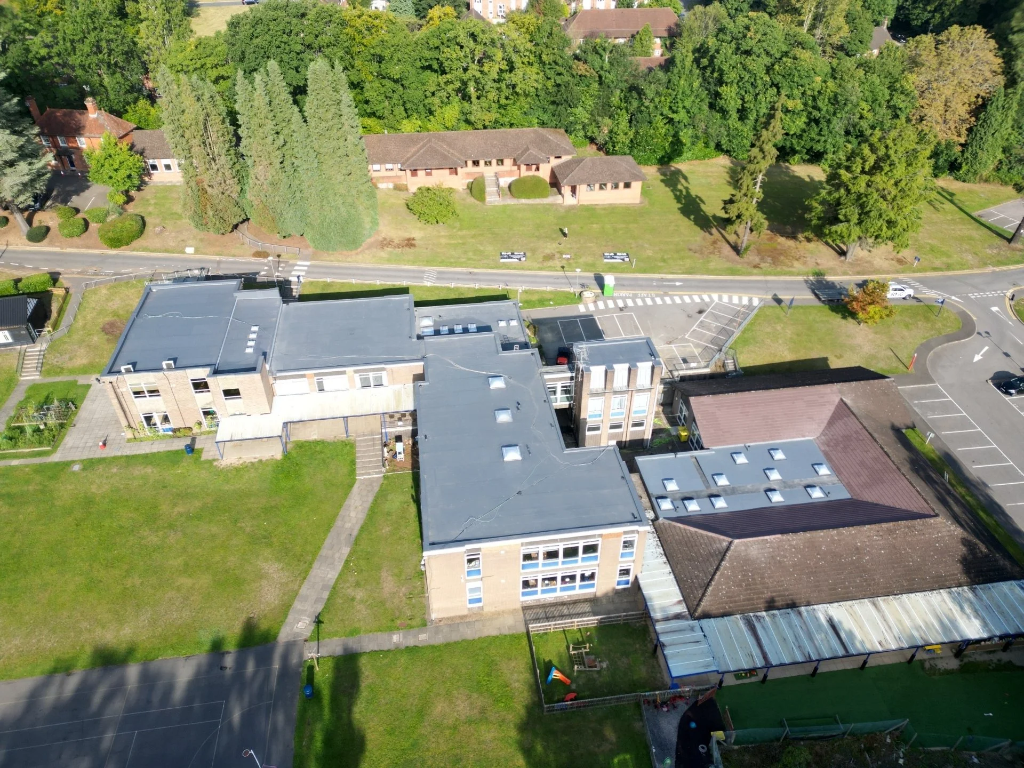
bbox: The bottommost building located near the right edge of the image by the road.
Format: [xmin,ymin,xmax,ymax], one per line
[632,366,1024,632]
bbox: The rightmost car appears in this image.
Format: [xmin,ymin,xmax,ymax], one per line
[996,373,1024,395]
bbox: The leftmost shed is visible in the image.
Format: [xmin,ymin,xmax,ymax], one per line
[0,297,47,346]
